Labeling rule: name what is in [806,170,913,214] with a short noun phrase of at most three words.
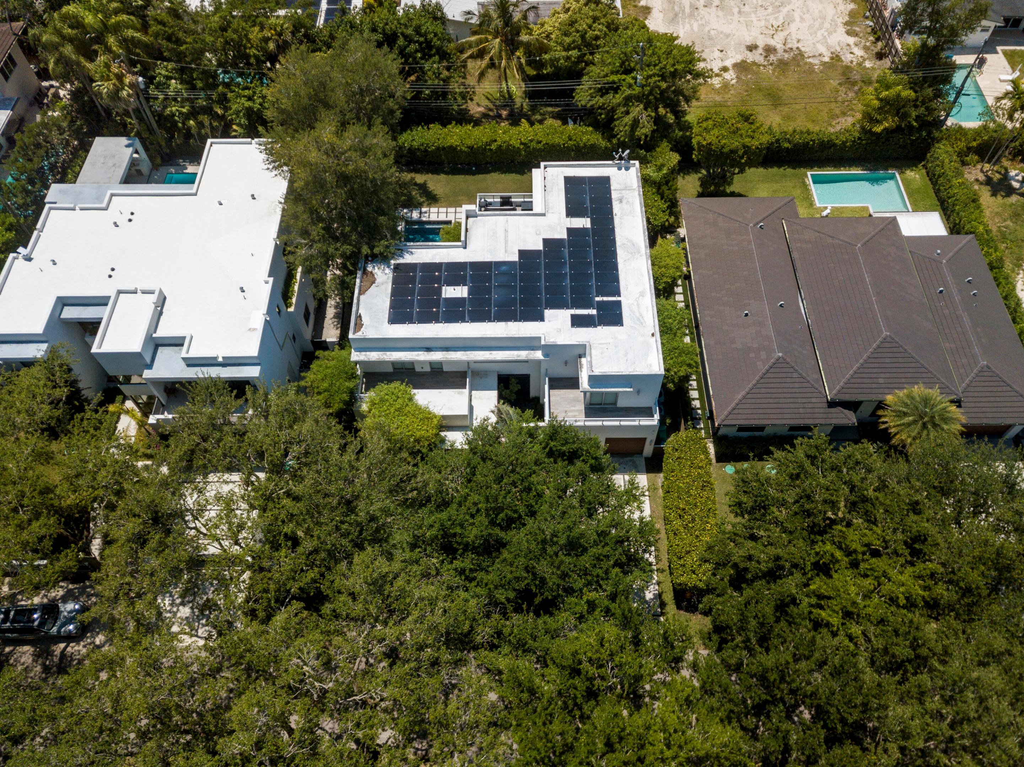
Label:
swimming pool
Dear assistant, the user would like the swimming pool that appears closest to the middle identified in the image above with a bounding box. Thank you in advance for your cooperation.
[398,218,451,243]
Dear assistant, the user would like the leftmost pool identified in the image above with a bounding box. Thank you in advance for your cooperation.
[0,151,70,210]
